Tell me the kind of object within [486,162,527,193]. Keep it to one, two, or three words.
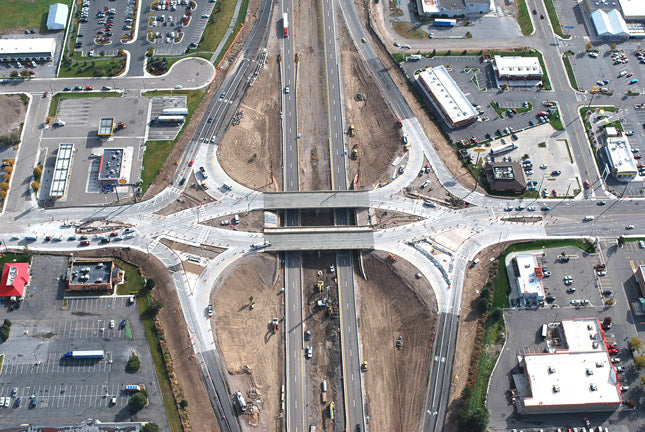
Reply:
building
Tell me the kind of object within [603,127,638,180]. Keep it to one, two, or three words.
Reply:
building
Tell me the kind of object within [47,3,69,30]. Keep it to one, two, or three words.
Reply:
barn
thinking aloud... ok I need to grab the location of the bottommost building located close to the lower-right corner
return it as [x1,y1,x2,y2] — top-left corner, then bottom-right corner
[511,317,625,414]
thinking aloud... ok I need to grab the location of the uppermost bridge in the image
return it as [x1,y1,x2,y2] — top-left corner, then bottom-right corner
[263,189,373,211]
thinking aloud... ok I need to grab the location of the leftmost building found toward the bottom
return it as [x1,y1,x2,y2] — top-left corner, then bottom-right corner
[0,263,33,301]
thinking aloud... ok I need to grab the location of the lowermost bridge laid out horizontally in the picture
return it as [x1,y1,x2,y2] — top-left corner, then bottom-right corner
[264,223,375,251]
